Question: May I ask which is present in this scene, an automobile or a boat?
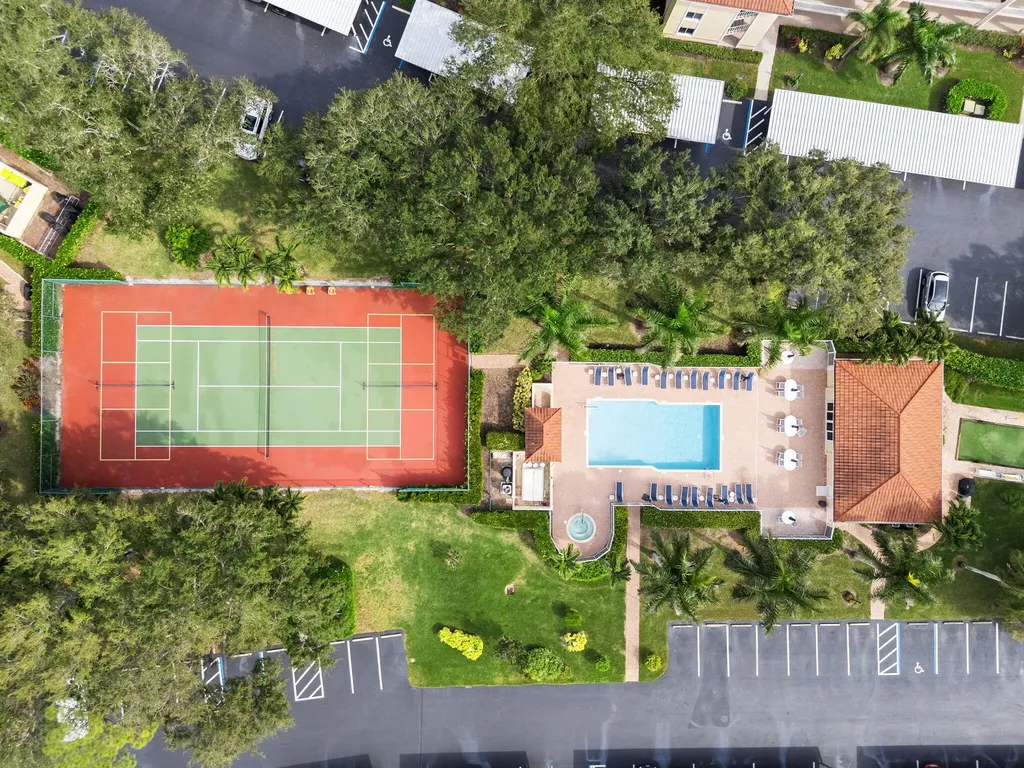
automobile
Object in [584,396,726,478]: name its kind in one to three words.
swimming pool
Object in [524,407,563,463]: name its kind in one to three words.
building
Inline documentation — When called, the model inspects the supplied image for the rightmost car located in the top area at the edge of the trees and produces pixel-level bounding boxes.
[916,270,949,323]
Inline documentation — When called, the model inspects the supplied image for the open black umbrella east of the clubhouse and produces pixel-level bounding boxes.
[947,477,975,496]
